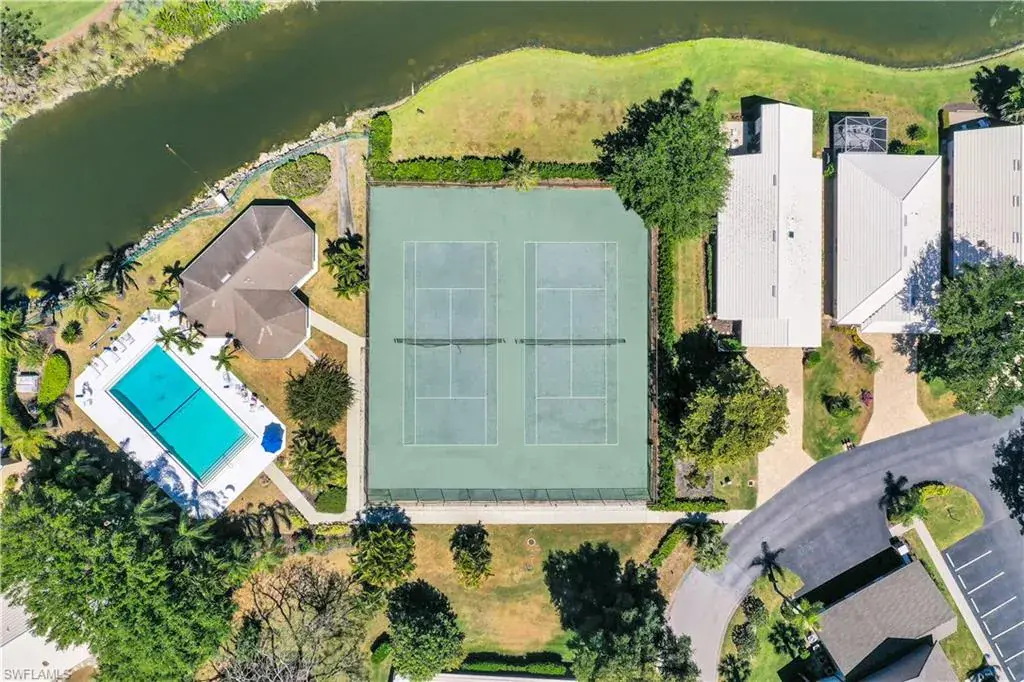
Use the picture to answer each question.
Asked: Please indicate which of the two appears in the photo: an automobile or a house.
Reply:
house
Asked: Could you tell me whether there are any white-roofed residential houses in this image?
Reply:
Yes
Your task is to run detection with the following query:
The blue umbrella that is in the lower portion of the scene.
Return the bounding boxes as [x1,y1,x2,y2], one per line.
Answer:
[262,432,284,454]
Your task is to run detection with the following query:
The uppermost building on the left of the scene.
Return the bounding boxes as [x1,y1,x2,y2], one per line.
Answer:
[179,205,316,360]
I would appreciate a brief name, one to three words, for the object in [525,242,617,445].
tennis court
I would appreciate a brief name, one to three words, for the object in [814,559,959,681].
house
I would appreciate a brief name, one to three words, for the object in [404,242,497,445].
tennis court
